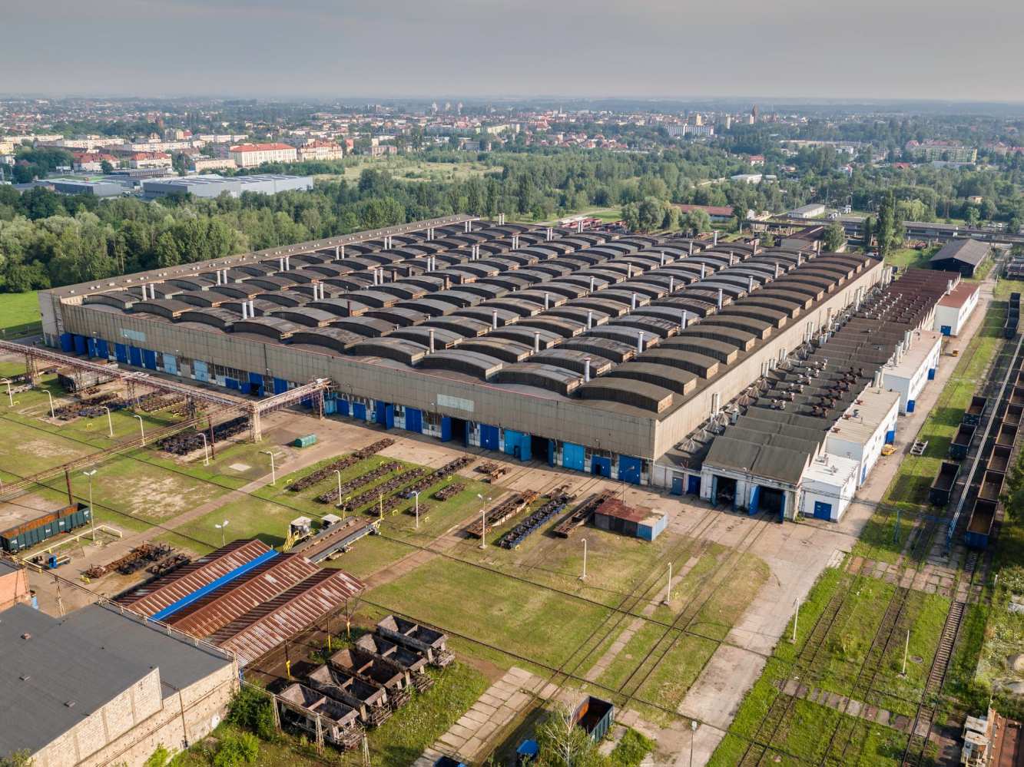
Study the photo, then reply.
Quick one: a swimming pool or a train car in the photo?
train car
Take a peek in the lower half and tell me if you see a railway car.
Yes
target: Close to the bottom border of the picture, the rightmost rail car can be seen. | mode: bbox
[548,693,615,755]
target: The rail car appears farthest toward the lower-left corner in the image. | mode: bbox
[0,503,98,559]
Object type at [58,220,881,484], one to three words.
building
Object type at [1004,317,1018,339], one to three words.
rail car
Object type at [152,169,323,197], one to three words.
building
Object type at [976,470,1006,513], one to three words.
rail car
